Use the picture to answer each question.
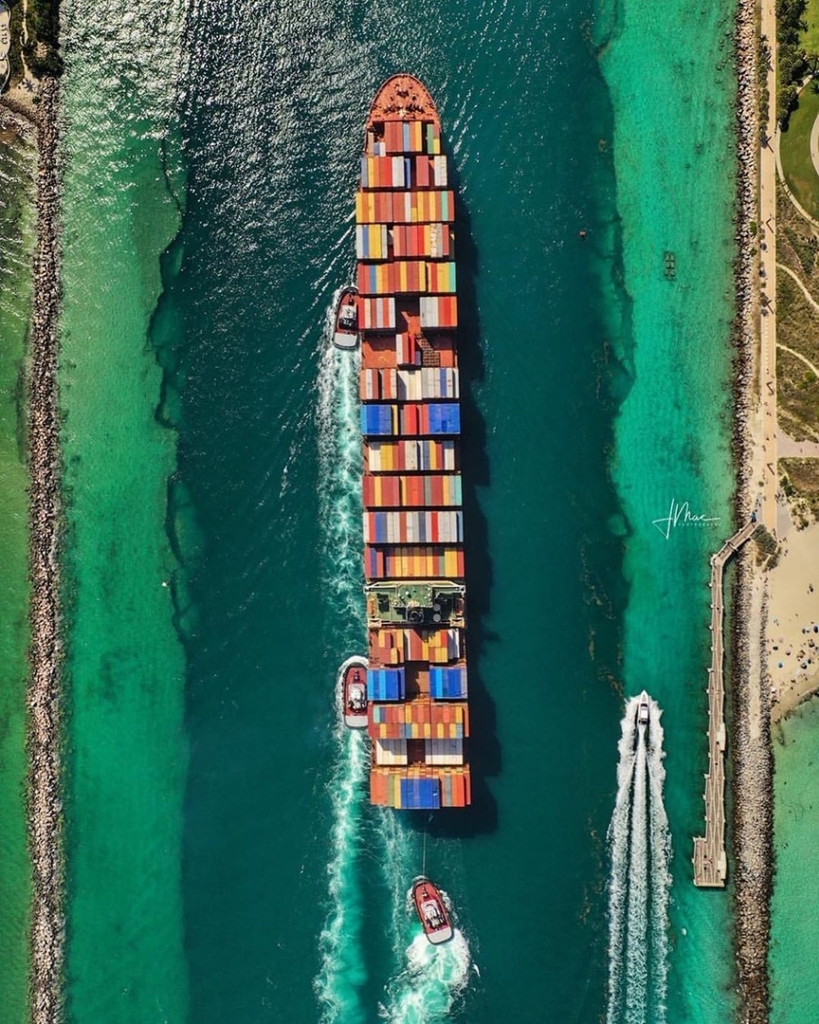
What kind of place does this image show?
port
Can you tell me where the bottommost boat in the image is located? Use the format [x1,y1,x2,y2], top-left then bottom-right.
[413,875,452,946]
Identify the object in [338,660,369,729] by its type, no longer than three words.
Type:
boat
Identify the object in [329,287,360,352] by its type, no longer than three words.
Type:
boat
